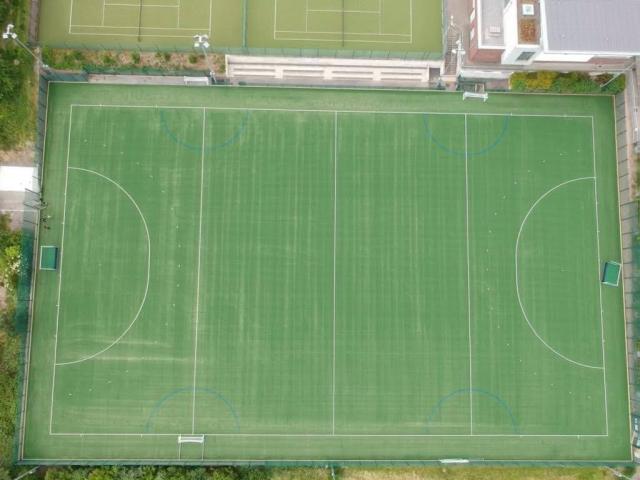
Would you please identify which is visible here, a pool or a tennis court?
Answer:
tennis court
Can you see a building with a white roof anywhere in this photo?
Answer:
Yes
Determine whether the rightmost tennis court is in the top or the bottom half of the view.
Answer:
top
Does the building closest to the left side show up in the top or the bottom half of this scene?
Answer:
top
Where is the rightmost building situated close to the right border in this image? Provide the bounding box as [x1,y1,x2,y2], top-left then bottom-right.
[532,0,640,64]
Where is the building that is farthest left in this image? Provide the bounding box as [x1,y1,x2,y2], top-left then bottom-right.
[469,0,506,61]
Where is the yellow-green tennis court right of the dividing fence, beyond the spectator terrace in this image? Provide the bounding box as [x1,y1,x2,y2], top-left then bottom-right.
[244,0,441,59]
